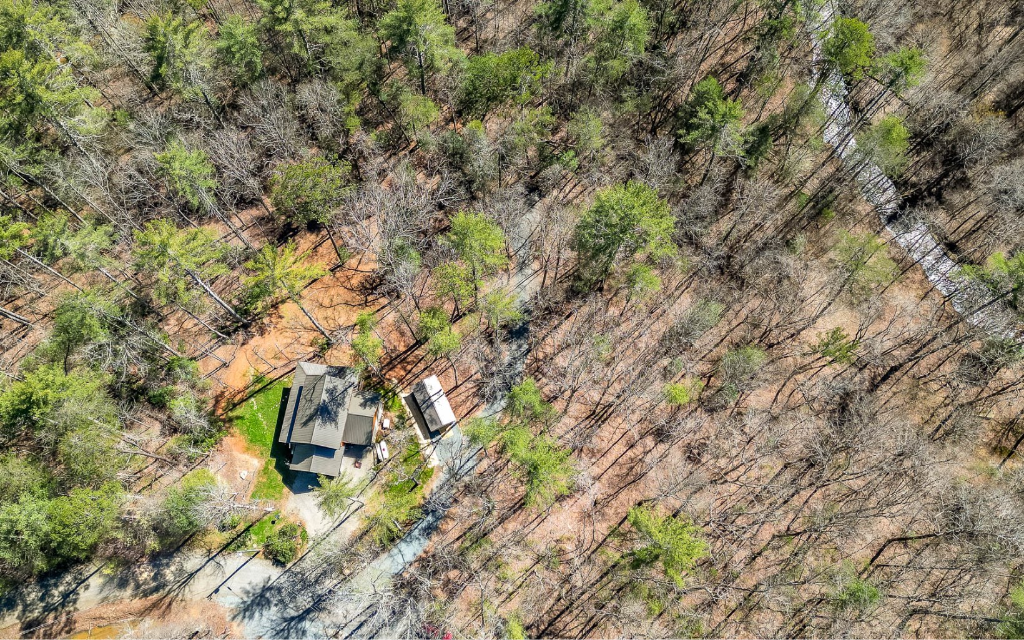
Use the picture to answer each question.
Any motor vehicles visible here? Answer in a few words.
No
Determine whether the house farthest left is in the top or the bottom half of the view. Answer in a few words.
bottom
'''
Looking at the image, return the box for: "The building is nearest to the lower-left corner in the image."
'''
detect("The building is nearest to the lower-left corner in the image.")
[279,360,381,477]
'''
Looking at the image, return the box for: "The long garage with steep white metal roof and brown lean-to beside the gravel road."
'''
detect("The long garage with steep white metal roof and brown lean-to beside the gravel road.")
[405,376,456,445]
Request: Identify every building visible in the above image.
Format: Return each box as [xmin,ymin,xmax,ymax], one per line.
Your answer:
[279,360,381,477]
[405,376,456,445]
